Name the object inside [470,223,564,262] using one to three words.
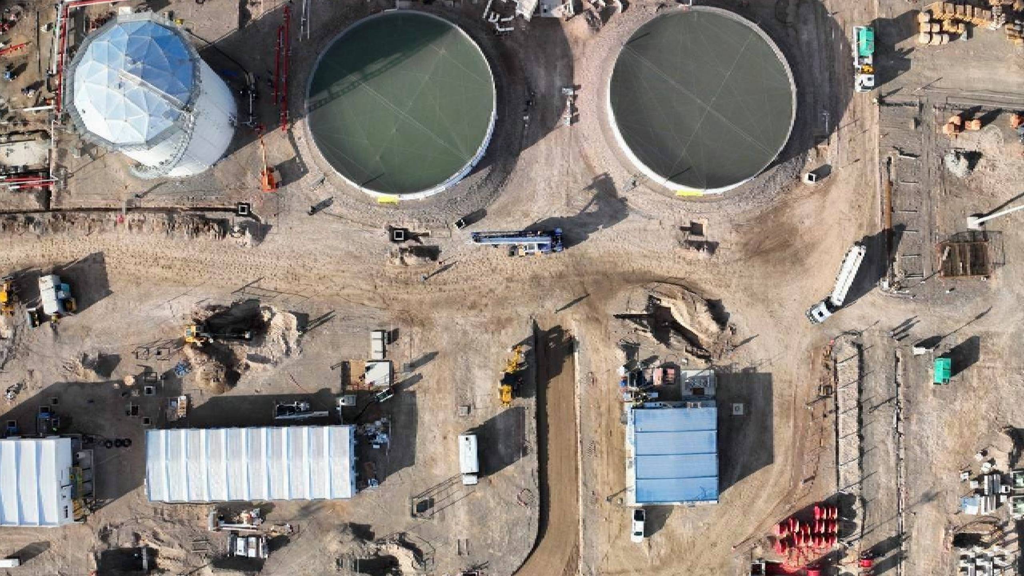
crane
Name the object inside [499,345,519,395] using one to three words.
work vehicle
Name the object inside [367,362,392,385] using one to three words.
building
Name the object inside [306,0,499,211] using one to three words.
storage tank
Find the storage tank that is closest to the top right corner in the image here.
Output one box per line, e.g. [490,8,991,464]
[602,0,798,204]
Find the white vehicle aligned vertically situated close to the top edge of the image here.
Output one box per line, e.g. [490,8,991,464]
[853,23,877,96]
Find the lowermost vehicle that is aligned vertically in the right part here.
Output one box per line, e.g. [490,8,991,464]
[632,509,646,542]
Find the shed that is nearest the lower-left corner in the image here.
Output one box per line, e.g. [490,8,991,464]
[0,433,75,528]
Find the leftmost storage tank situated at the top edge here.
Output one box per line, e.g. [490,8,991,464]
[59,11,239,173]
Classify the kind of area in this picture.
industrial area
